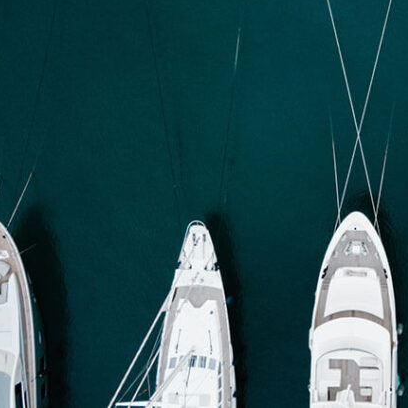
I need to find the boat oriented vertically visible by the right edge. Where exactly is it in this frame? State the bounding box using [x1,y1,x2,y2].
[307,210,399,408]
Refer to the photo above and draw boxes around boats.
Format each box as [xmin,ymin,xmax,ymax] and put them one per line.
[111,220,238,408]
[307,210,399,408]
[0,217,50,408]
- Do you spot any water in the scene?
Yes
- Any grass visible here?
No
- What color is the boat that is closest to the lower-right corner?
white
